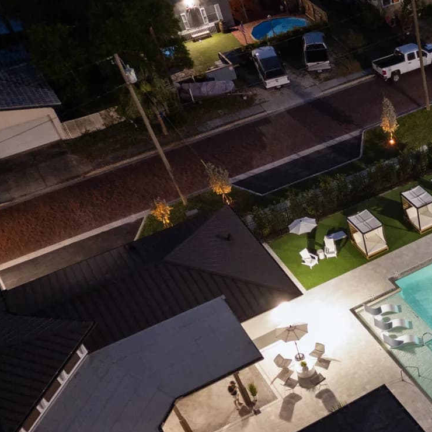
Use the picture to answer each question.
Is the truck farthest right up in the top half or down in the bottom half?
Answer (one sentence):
You can find the truck farthest right in the top half.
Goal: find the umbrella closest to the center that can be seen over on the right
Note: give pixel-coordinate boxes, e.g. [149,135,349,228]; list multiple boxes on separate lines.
[285,223,316,262]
